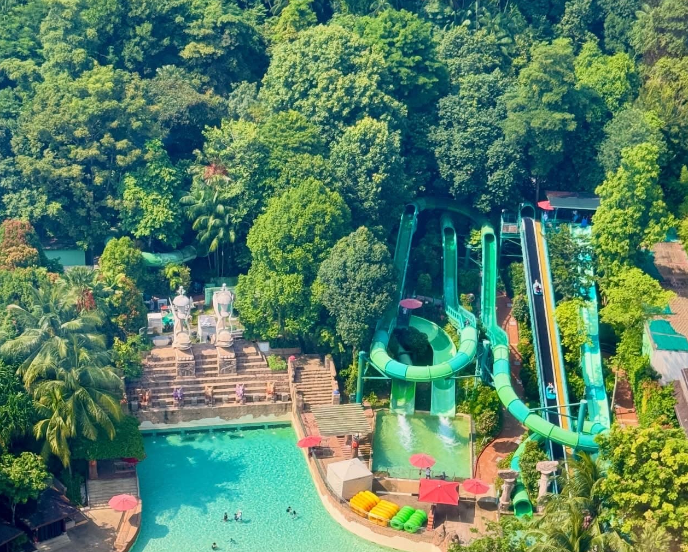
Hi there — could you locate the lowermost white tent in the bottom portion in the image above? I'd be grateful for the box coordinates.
[329,458,373,501]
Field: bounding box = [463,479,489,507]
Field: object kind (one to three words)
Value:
umbrella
